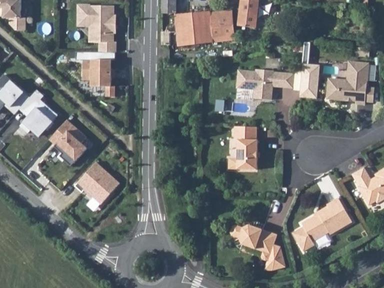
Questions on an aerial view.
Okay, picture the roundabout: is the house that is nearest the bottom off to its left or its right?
on the right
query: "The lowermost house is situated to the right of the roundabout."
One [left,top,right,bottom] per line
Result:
[232,224,286,272]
